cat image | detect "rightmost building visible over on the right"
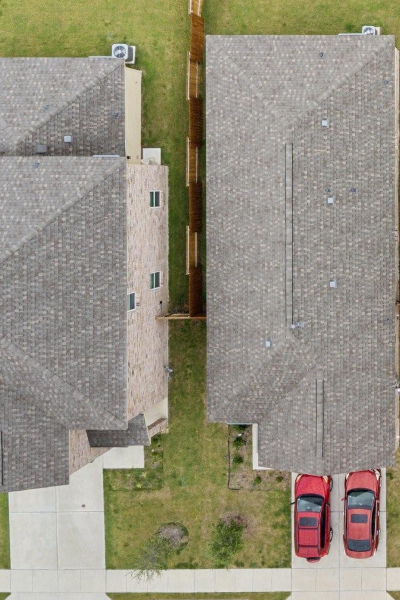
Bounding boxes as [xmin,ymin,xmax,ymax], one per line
[206,32,400,477]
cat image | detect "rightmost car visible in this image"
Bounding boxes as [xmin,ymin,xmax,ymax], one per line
[341,470,383,558]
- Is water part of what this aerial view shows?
No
